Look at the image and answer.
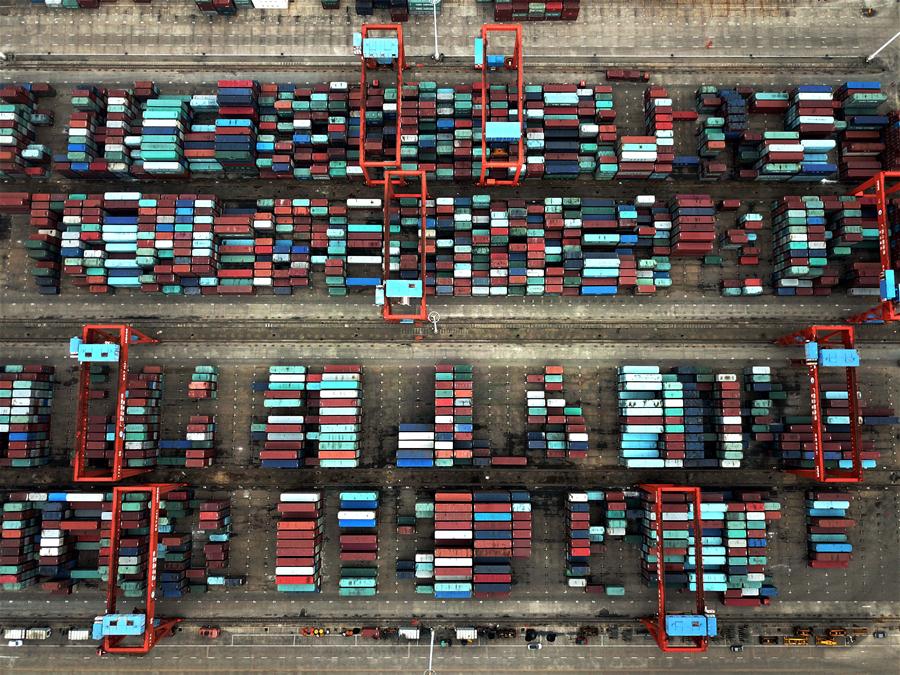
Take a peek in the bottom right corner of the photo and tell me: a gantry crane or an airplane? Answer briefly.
gantry crane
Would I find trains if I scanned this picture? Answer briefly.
No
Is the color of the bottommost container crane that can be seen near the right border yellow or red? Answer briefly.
red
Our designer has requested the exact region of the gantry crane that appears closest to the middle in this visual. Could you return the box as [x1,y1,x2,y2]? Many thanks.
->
[375,172,434,328]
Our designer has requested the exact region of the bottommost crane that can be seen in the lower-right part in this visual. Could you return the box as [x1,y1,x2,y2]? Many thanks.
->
[629,481,718,648]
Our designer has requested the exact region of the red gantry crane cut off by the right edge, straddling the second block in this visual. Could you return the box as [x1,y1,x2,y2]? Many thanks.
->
[838,173,900,328]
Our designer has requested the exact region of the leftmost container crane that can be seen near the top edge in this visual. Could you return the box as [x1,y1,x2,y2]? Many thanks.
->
[352,28,413,183]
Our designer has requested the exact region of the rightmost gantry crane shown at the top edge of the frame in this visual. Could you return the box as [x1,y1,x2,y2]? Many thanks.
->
[472,28,526,183]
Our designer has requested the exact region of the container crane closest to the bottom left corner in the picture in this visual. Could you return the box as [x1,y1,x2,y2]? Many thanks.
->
[90,481,188,648]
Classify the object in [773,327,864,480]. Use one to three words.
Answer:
container crane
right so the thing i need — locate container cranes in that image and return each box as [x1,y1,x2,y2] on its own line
[472,28,526,183]
[773,327,864,480]
[838,173,900,328]
[352,28,413,183]
[375,172,434,328]
[629,481,718,648]
[90,481,188,648]
[65,327,163,480]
